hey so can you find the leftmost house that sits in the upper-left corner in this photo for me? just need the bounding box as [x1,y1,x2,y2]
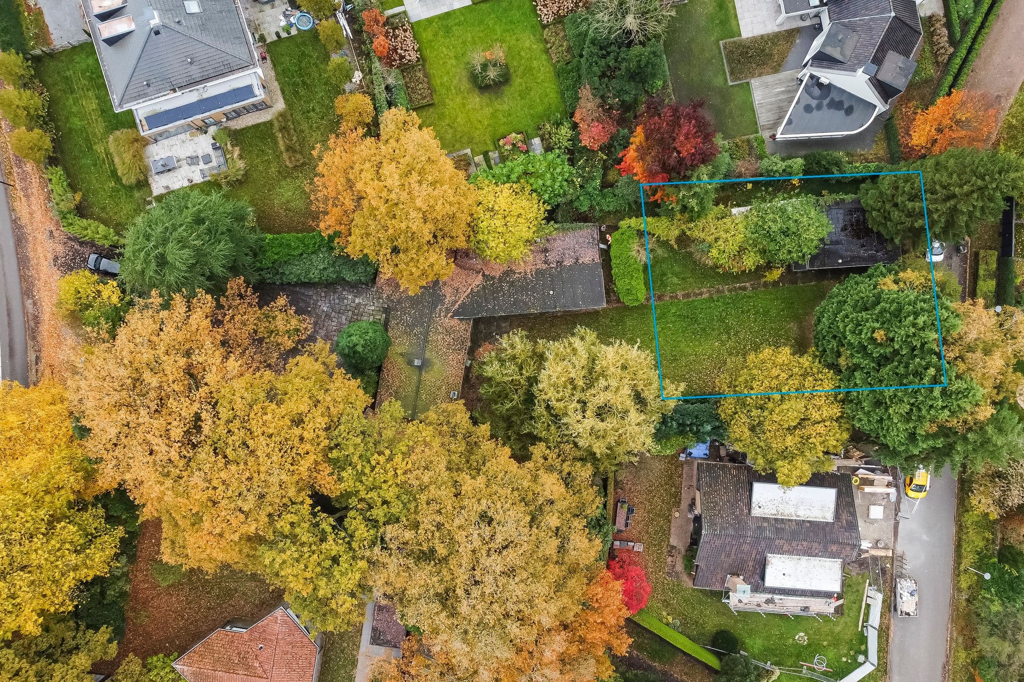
[80,0,273,142]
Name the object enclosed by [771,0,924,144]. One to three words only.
house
